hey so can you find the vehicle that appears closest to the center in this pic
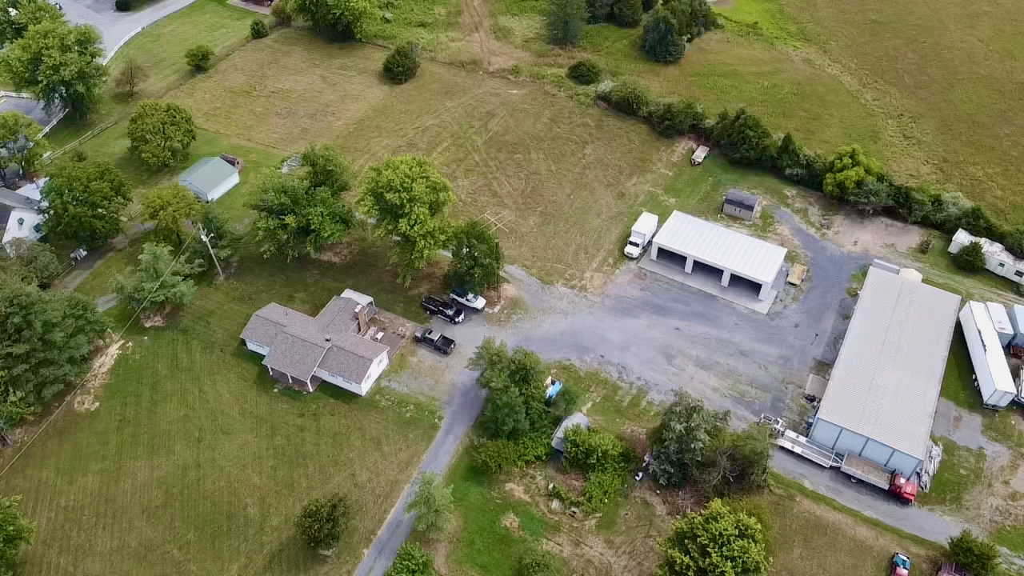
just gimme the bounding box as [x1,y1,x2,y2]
[446,283,486,310]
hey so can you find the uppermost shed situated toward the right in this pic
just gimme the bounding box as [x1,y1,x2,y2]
[724,189,759,220]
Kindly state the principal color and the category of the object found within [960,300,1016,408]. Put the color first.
white trailer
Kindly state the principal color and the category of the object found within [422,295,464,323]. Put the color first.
black truck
